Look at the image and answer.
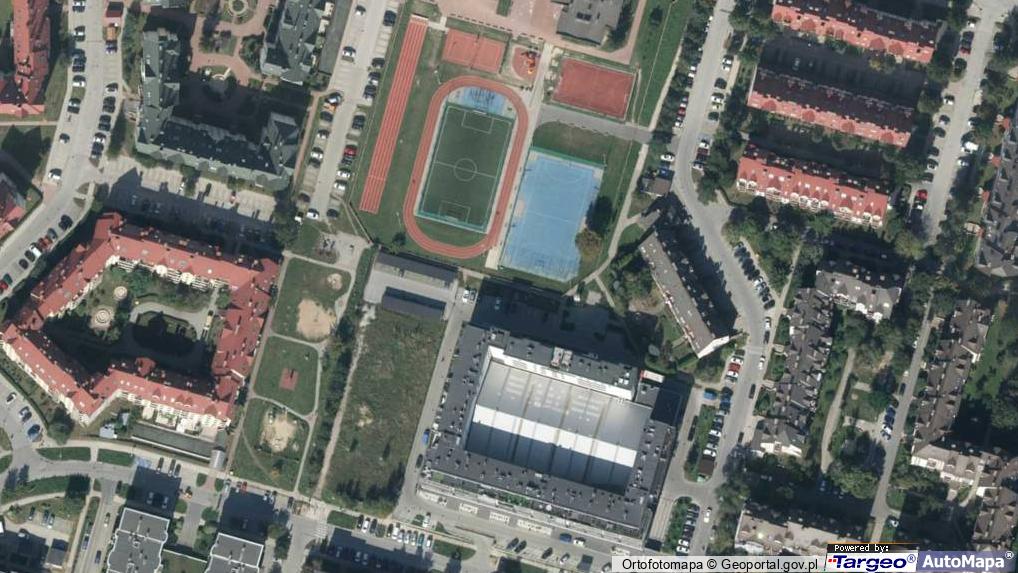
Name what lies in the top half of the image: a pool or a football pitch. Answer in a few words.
football pitch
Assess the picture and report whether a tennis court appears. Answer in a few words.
Yes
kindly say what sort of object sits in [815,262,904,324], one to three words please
house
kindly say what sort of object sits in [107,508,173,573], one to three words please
building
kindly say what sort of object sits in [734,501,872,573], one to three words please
house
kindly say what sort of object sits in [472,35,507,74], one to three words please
tennis court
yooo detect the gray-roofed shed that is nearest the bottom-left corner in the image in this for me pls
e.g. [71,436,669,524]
[47,546,68,569]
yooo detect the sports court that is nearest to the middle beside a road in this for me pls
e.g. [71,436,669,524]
[500,146,605,283]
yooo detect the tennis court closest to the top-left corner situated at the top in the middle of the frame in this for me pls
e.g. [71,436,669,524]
[442,28,477,67]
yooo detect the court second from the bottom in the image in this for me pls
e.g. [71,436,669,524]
[552,57,635,118]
